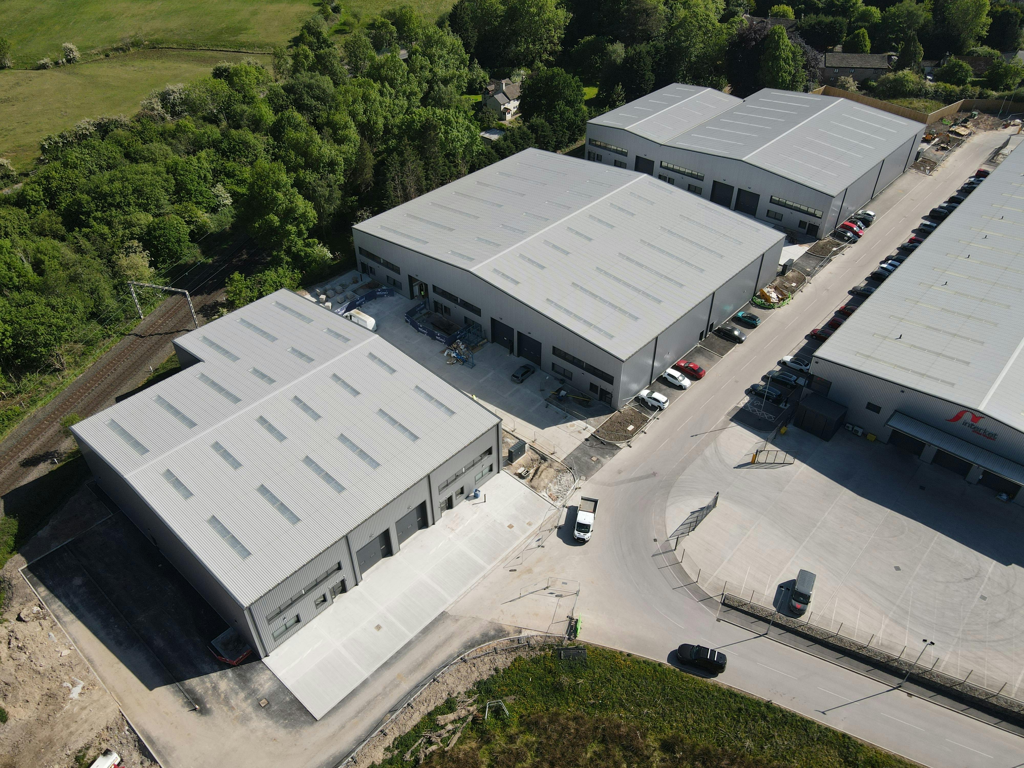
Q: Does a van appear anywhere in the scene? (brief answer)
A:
Yes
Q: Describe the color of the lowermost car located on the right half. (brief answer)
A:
black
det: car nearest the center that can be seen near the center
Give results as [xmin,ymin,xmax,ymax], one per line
[509,365,535,385]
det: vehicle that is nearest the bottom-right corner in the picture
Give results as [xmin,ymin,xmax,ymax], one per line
[787,566,817,616]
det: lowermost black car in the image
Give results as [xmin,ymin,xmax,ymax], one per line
[676,647,729,680]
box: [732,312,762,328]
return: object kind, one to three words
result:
car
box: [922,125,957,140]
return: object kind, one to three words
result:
work vehicle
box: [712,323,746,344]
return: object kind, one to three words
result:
car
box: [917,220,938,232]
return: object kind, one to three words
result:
vehicle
